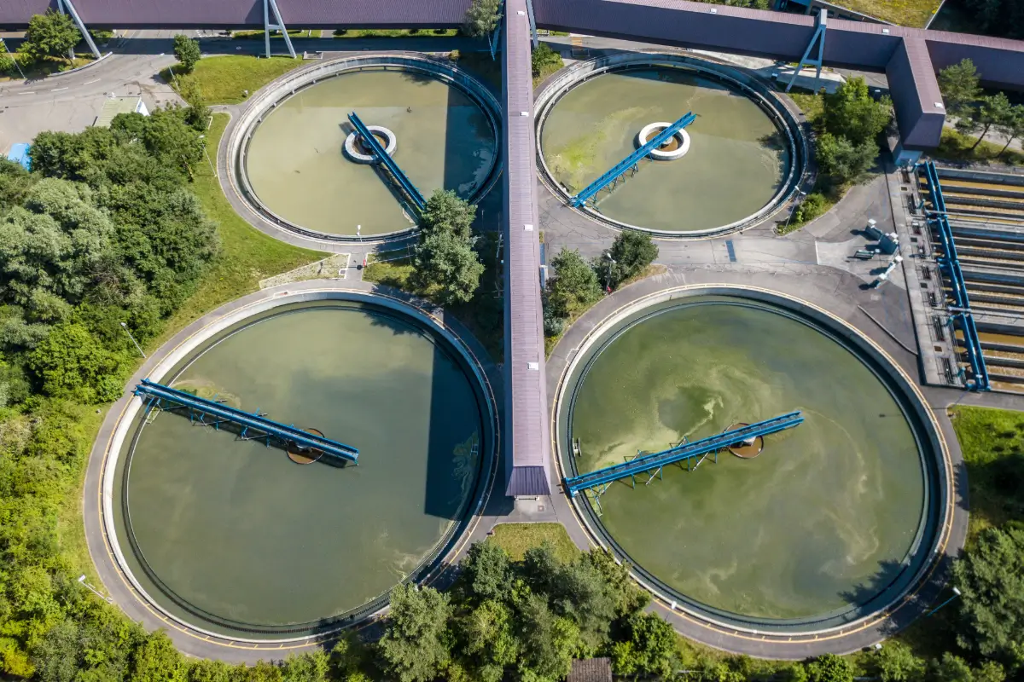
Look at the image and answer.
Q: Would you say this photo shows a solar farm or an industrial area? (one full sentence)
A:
The area seen from above is an industrial area.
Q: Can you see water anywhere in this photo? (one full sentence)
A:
Yes, water shows up in the scene.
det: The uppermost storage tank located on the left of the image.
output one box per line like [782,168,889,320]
[226,52,502,244]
